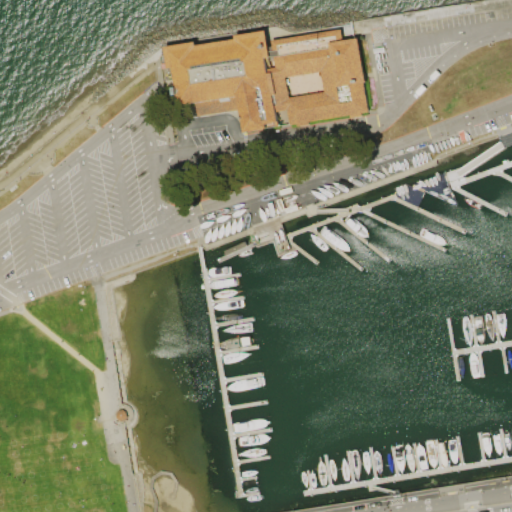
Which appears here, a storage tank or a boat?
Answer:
boat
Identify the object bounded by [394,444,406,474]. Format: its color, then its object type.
white boat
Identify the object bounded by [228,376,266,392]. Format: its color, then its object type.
white boat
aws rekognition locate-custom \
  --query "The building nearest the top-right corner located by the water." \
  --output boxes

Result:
[268,28,370,126]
